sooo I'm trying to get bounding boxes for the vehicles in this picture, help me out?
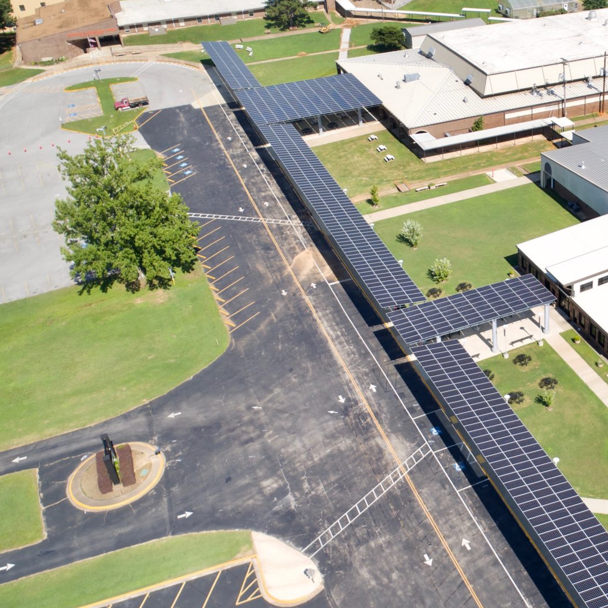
[111,93,148,110]
[318,19,339,32]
